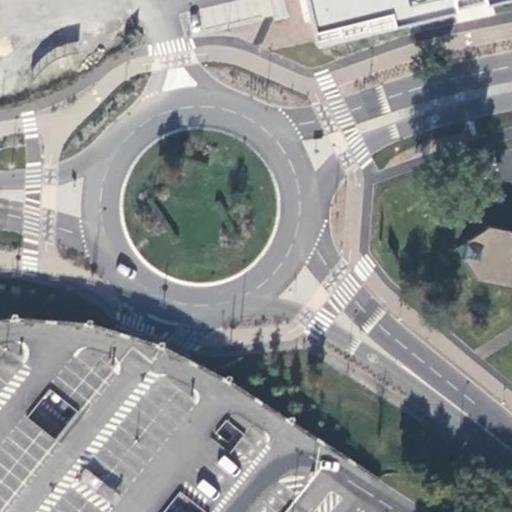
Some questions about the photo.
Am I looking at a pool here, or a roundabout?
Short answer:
roundabout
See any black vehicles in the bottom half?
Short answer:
No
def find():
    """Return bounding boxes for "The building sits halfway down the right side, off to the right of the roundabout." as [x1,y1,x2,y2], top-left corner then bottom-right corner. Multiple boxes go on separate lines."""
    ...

[453,228,512,288]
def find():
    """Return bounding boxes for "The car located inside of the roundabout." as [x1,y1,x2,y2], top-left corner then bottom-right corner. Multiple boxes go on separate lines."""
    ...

[117,262,137,280]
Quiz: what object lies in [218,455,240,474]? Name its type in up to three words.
vehicle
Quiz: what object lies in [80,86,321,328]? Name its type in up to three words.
roundabout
